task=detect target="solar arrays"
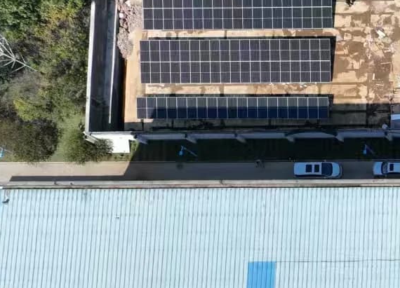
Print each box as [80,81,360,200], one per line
[139,39,330,83]
[143,0,332,29]
[137,97,329,119]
